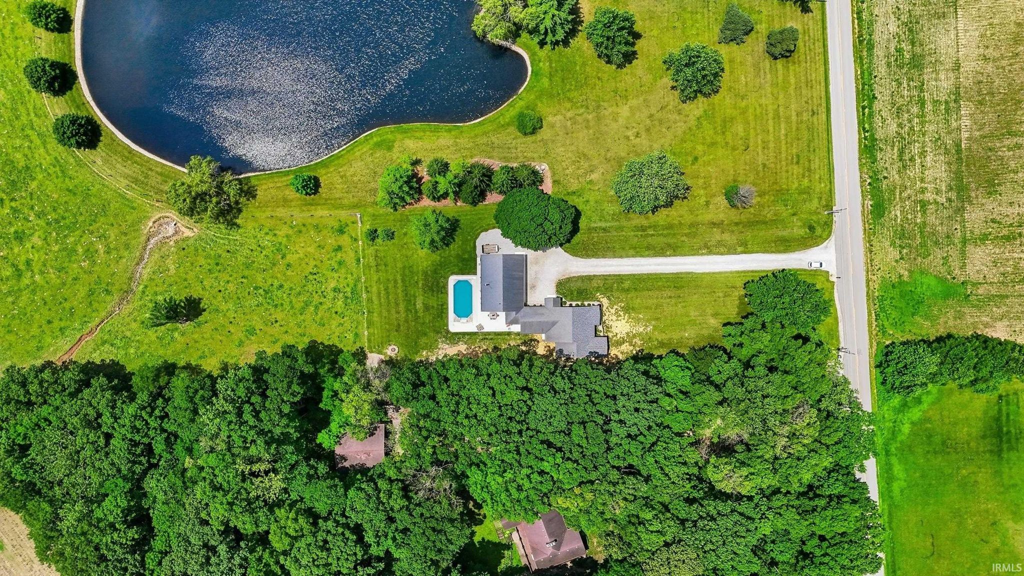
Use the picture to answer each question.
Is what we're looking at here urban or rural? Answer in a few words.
rural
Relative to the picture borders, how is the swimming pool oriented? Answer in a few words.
up and down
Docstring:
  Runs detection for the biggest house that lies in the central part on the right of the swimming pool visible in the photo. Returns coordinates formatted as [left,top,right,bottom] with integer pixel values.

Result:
[506,298,608,358]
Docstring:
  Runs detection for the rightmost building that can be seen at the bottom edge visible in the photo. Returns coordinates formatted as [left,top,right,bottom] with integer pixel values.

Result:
[517,509,586,574]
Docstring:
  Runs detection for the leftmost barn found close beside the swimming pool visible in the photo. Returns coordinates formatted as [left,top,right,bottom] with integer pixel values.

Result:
[481,254,525,312]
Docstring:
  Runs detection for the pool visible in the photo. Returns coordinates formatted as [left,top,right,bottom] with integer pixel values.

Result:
[453,279,473,322]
